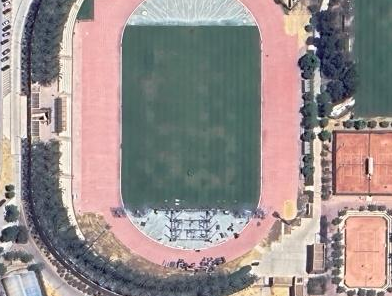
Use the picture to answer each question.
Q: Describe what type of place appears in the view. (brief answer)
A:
sports ground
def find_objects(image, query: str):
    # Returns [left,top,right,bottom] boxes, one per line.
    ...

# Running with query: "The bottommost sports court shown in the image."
[339,210,392,290]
